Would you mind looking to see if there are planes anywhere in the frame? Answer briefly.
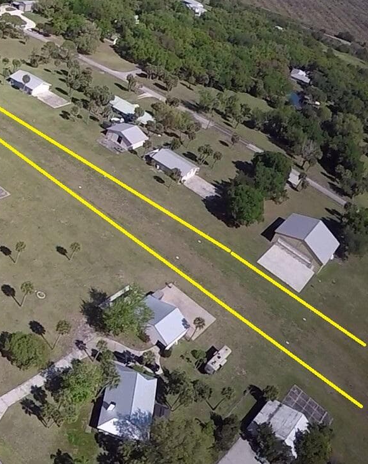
No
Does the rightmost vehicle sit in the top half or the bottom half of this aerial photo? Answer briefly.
bottom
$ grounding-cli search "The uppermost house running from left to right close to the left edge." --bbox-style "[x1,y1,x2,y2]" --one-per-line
[1,0,33,14]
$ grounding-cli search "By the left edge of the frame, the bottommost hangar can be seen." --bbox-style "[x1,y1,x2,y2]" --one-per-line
[12,72,51,97]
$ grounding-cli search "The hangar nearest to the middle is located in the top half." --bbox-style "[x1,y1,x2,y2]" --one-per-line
[138,147,198,187]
